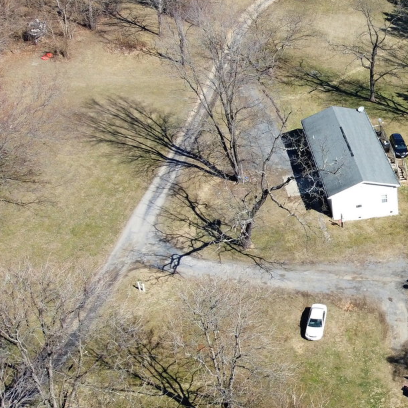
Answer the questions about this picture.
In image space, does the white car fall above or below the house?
below it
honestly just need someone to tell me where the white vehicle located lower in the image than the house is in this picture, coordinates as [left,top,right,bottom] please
[301,306,322,345]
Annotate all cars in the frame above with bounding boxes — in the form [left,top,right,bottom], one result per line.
[301,306,322,345]
[390,131,408,158]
